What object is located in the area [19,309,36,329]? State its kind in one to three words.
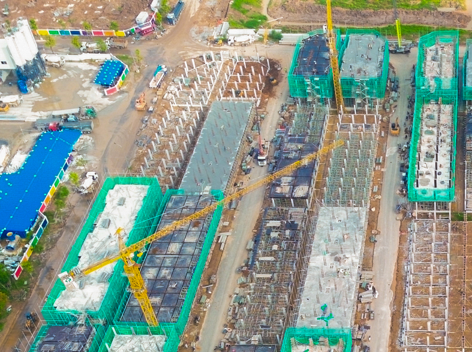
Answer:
work vehicle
